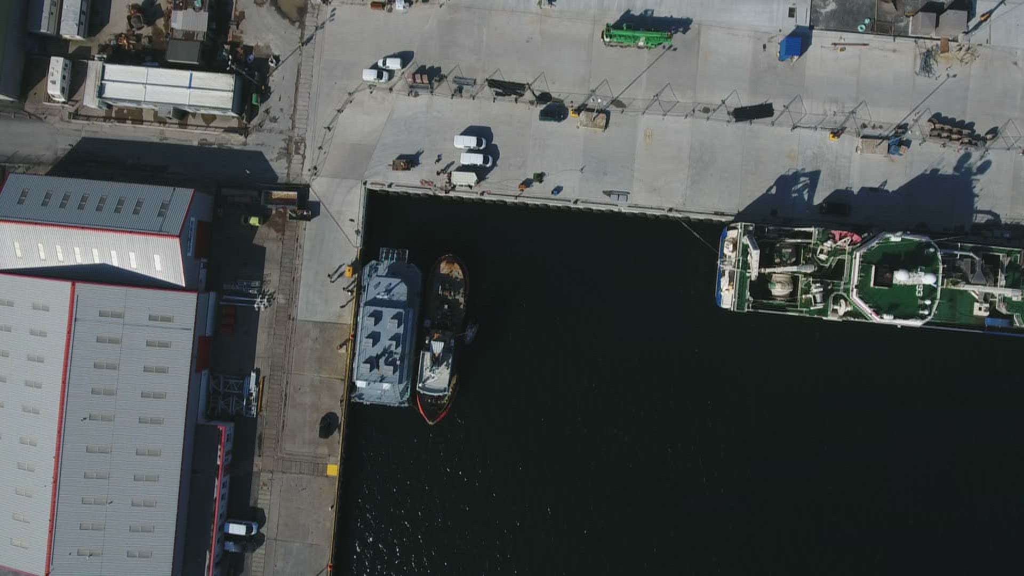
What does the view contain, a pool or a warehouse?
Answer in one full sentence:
It is a warehouse that can be seen here.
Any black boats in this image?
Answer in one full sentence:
Yes, this view includes a black boat.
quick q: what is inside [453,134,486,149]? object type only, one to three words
vehicle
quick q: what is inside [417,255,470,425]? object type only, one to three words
boat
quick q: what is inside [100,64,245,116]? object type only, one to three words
building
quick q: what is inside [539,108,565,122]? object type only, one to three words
car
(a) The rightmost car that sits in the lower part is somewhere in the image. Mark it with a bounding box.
[317,416,330,441]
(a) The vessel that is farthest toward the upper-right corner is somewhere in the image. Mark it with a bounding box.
[718,221,1024,335]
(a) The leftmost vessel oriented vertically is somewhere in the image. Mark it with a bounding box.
[352,248,423,408]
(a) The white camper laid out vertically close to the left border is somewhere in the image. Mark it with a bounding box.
[43,54,69,108]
